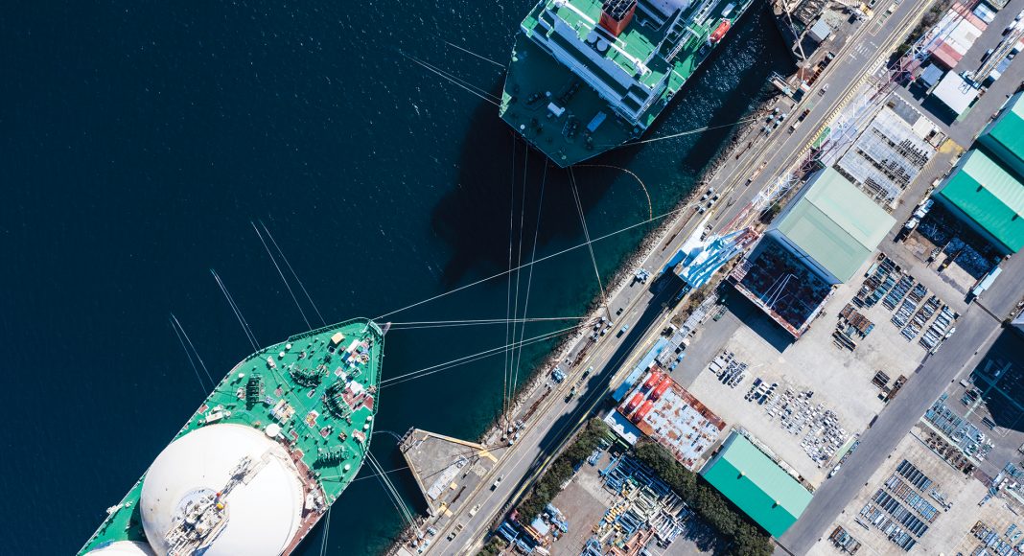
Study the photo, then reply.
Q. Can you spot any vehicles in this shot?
Yes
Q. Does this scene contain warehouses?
Yes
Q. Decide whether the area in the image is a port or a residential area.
port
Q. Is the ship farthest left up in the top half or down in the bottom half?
bottom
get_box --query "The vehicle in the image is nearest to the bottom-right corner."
[929,485,957,509]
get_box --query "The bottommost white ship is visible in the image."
[73,319,389,556]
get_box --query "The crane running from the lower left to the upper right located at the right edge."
[964,13,1024,94]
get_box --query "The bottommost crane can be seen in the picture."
[654,211,763,297]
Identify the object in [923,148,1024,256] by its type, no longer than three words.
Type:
building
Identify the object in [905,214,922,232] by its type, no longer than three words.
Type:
vehicle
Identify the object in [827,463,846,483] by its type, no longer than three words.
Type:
vehicle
